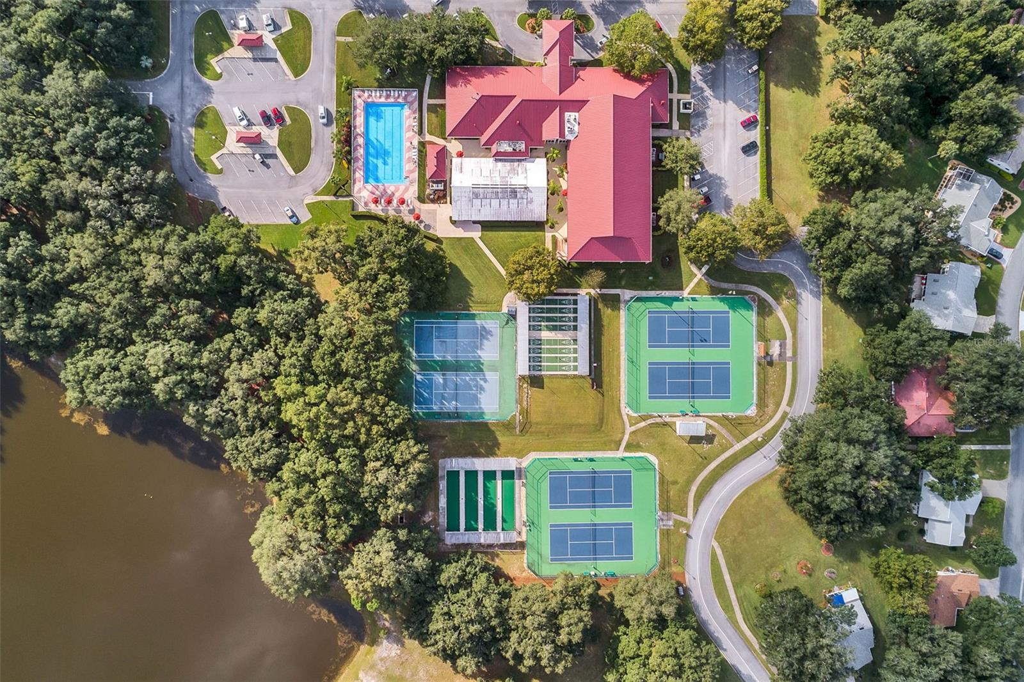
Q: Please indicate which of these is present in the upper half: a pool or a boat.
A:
pool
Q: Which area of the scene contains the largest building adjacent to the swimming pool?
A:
top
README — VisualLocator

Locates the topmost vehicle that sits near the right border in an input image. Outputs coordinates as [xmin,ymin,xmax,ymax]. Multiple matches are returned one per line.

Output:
[988,247,1003,259]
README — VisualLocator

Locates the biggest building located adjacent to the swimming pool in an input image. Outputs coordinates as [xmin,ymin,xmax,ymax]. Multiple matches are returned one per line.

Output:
[445,19,669,265]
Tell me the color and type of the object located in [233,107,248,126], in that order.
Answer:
white vehicle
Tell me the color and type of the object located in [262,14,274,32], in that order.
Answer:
white vehicle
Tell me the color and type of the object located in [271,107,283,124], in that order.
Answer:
red vehicle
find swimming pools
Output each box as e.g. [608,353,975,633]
[352,89,420,211]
